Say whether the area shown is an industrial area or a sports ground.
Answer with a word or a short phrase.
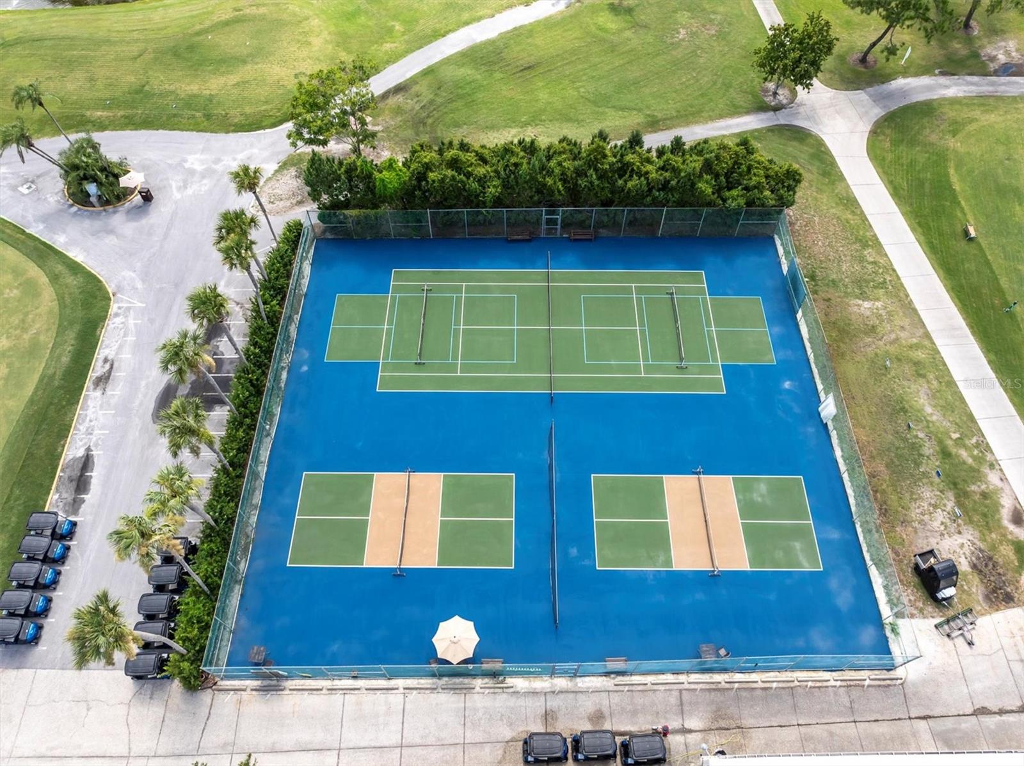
sports ground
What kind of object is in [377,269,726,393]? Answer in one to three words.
tennis court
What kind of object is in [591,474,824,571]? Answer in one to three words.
sports court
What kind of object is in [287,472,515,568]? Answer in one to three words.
sports court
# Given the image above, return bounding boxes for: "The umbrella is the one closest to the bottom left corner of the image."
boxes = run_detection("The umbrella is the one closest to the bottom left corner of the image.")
[431,615,481,667]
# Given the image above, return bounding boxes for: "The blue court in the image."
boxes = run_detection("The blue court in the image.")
[224,237,891,678]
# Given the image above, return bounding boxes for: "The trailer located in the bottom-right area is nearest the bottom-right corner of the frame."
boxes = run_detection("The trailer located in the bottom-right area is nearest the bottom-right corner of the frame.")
[936,606,979,653]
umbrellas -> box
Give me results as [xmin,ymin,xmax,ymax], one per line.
[120,172,146,189]
[431,615,481,667]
